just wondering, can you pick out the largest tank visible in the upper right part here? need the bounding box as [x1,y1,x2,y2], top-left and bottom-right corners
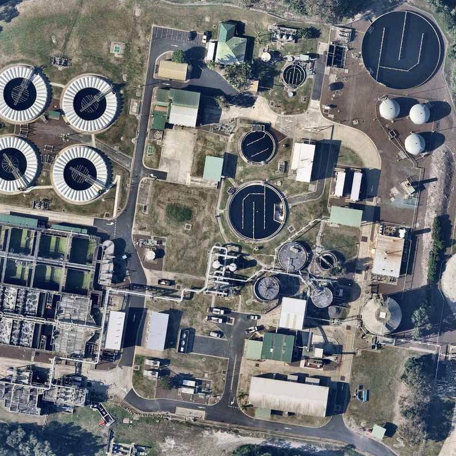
[360,8,445,92]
